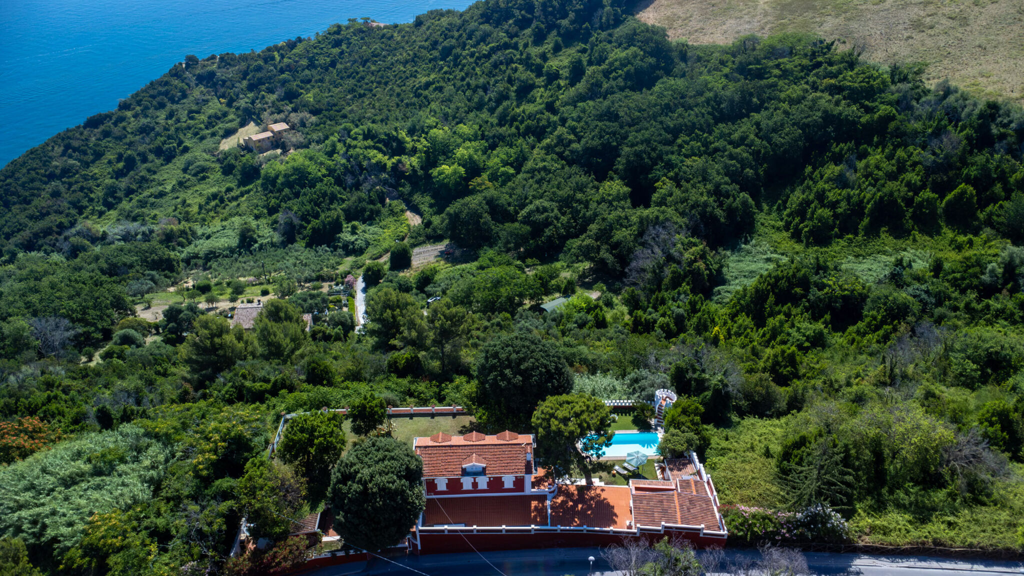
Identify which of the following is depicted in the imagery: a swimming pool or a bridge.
swimming pool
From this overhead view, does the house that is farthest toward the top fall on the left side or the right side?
left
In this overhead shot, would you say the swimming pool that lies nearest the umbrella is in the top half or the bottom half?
bottom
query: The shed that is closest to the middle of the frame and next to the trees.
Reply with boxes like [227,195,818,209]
[542,293,574,315]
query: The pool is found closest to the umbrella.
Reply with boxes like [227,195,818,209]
[588,429,665,459]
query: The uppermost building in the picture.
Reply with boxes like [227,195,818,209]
[241,121,295,159]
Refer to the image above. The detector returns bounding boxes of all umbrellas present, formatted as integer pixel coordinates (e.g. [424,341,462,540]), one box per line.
[625,451,647,479]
